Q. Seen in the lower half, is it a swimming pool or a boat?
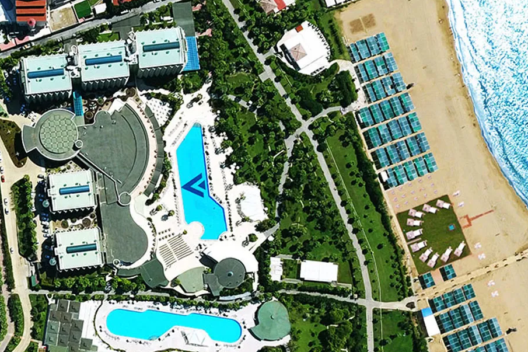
swimming pool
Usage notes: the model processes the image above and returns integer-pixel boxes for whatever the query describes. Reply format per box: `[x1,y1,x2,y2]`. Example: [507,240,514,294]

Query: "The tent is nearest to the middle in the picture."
[238,183,265,221]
